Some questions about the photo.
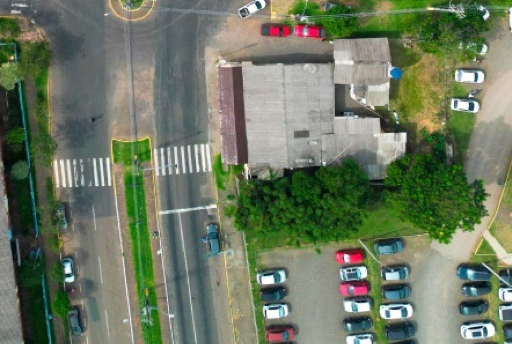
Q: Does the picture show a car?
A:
Yes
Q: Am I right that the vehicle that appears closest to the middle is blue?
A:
Yes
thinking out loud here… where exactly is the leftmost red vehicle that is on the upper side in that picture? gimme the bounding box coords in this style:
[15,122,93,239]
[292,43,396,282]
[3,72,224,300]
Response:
[260,22,291,38]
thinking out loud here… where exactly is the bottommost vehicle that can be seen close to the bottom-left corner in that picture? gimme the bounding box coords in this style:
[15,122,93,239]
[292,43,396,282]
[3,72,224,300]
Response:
[66,304,86,337]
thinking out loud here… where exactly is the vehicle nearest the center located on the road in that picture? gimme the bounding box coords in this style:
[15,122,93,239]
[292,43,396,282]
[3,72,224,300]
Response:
[201,222,221,256]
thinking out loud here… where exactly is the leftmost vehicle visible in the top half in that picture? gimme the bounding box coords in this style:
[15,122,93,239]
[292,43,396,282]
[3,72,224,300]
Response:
[237,0,268,20]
